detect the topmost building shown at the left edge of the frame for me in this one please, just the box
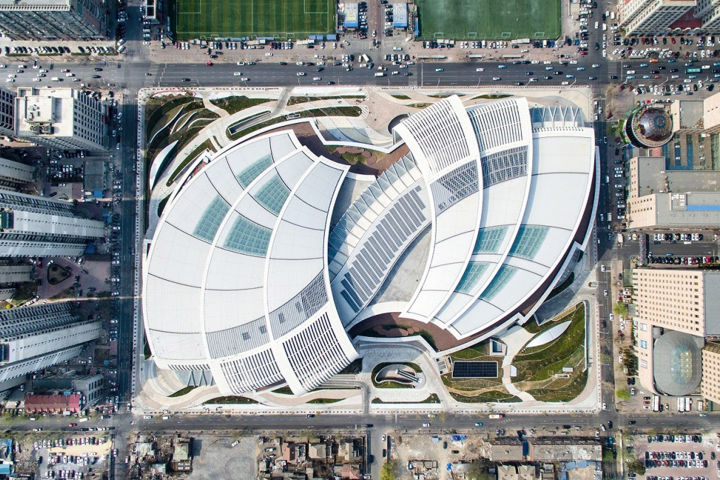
[0,0,105,44]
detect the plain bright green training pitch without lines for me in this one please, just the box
[417,0,562,40]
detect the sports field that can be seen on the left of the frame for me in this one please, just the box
[176,0,335,40]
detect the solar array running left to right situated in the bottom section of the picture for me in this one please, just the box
[451,361,498,379]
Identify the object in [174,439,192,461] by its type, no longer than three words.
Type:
house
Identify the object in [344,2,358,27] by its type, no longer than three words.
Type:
shed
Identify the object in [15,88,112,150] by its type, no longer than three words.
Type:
building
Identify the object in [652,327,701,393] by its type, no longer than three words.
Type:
building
